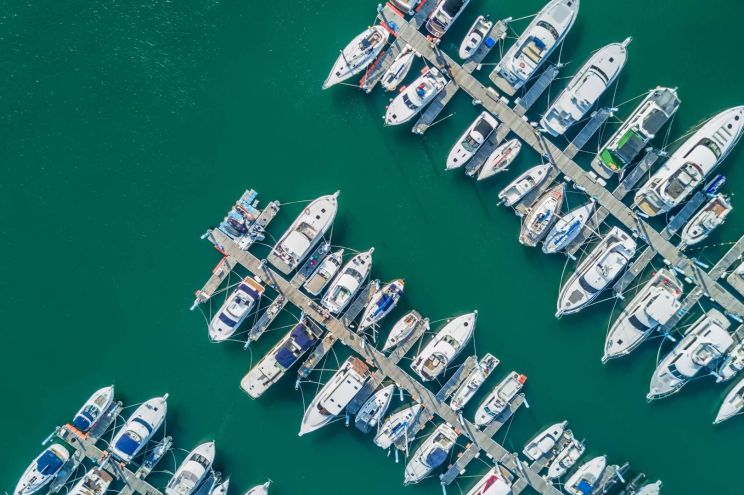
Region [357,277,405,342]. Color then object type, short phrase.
white boat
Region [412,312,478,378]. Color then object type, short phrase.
white boat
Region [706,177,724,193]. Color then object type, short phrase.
blue boat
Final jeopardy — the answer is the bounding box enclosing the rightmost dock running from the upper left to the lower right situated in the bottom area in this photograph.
[195,198,619,495]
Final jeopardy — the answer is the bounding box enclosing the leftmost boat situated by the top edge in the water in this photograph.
[322,24,392,89]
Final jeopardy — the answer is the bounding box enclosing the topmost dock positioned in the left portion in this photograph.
[222,190,262,243]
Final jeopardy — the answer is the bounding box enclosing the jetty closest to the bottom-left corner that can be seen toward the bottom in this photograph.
[46,398,223,495]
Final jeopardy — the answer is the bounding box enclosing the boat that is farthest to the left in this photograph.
[12,438,70,495]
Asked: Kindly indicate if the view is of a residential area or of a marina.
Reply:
marina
